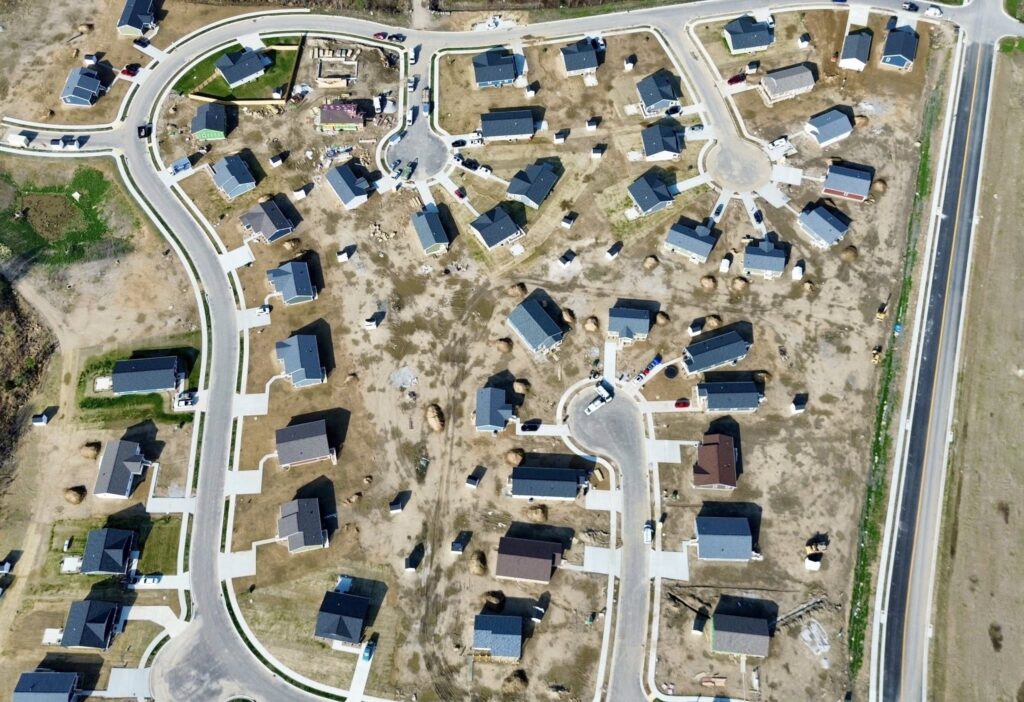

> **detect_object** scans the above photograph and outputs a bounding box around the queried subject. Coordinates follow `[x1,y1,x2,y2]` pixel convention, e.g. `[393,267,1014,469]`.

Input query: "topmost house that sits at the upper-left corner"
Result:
[117,0,157,35]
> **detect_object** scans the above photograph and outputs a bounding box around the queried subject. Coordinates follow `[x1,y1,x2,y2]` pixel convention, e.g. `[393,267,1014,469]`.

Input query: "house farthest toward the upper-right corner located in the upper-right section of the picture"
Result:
[881,27,917,70]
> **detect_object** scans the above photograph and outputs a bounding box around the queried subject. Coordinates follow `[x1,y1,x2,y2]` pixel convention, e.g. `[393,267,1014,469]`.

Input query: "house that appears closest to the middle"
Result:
[508,299,563,357]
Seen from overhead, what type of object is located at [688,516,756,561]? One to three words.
house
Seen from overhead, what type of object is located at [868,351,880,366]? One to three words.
vehicle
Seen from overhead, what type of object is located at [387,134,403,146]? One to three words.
vehicle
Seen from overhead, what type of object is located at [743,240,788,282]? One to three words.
house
